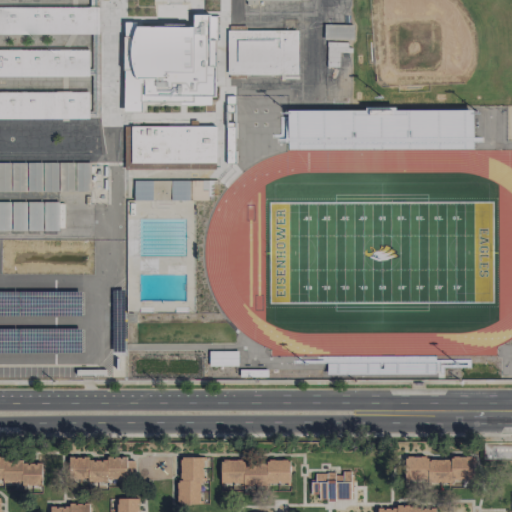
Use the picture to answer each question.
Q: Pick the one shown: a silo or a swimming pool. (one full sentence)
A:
This aerial view contains a swimming pool.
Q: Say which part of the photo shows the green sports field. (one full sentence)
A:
The green sports field sits in the right section of the image.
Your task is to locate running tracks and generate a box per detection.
[203,150,512,358]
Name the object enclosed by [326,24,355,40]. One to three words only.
building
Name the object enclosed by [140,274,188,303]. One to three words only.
swimming pool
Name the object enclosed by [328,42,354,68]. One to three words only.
building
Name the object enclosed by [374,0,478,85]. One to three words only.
baseball field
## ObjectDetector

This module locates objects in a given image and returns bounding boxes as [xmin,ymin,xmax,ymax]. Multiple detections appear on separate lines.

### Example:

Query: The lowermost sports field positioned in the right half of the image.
[266,173,499,333]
